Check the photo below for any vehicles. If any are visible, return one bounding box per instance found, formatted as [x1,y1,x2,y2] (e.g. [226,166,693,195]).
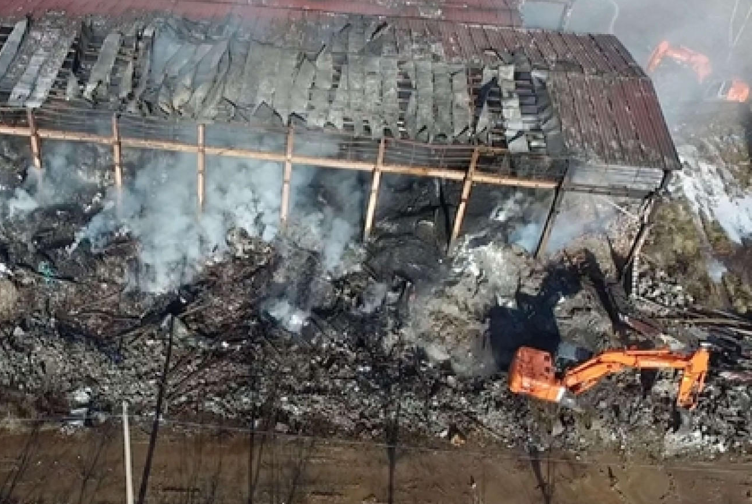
[646,36,752,121]
[501,338,706,422]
